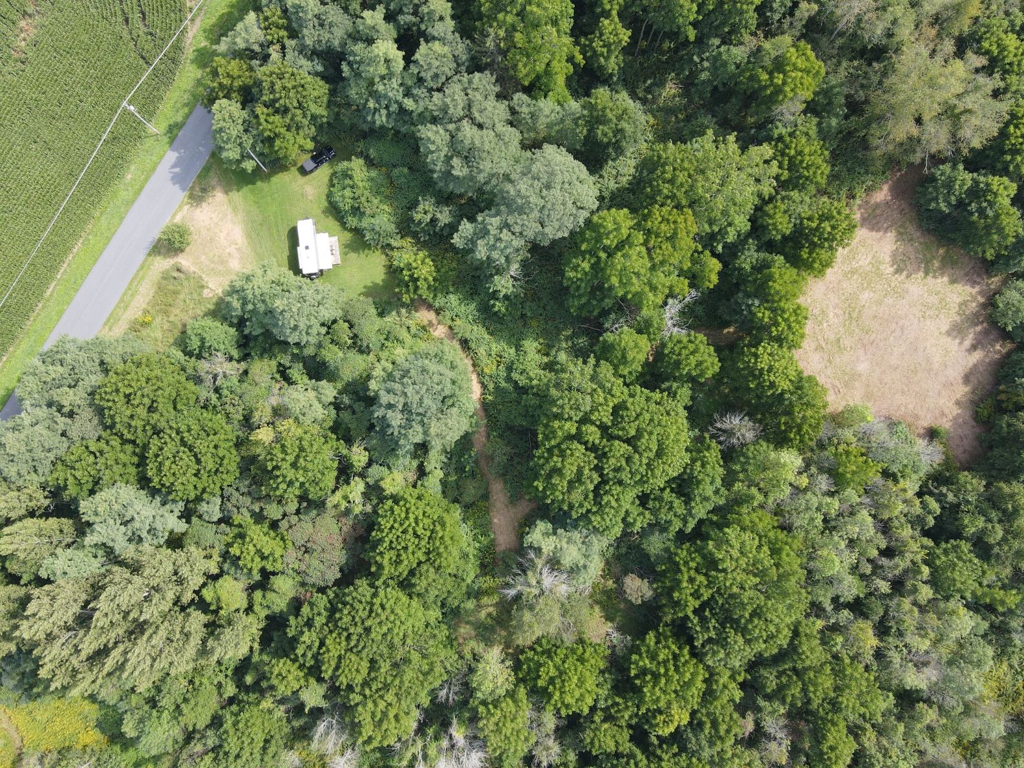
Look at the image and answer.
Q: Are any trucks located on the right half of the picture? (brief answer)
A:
No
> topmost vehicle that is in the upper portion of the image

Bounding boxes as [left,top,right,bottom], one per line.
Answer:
[302,146,337,175]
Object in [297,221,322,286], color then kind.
white trailer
